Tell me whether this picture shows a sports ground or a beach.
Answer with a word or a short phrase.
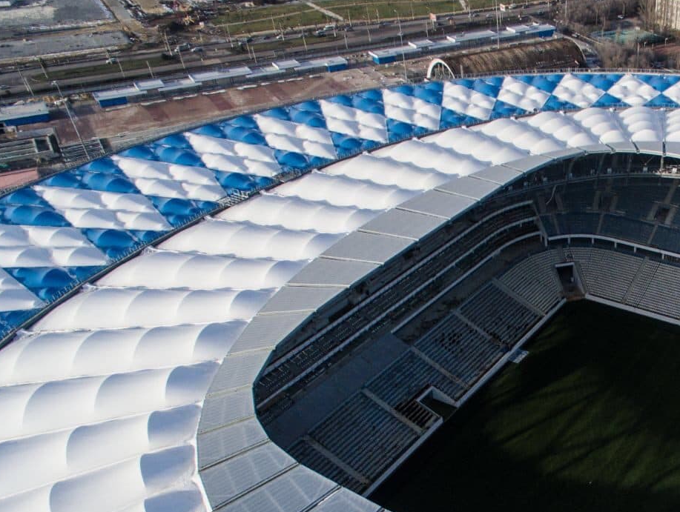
sports ground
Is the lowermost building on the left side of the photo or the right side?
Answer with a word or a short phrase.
left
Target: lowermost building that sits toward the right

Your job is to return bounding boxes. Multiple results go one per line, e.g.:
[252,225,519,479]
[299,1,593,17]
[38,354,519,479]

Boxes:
[372,25,556,64]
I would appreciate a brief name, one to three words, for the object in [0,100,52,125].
building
